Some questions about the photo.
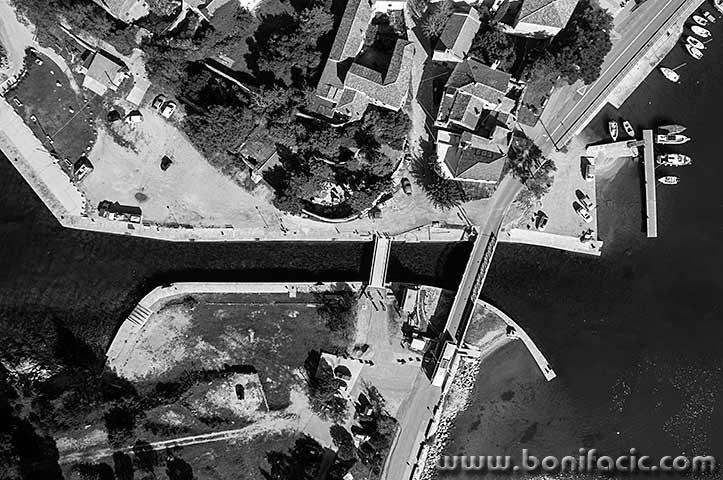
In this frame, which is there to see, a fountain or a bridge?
bridge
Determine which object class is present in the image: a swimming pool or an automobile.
automobile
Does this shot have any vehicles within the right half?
Yes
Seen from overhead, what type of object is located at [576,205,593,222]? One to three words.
car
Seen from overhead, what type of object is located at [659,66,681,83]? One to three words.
boat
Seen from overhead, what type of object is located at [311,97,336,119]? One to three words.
house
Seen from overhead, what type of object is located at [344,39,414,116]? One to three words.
house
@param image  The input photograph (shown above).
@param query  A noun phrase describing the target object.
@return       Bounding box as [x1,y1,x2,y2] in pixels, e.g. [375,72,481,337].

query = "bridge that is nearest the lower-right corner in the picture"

[438,213,503,350]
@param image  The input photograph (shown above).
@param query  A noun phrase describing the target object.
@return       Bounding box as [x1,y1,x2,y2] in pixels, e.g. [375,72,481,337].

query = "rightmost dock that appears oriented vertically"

[640,130,657,237]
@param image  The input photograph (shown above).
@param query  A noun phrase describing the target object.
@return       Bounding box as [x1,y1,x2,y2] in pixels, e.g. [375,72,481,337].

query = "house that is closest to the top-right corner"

[514,0,578,37]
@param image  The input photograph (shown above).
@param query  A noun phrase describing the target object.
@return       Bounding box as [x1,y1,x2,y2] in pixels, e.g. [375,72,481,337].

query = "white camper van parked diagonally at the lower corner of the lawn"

[70,164,93,182]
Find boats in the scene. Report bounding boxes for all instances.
[655,134,691,143]
[609,119,618,141]
[708,0,723,16]
[659,176,681,184]
[691,26,712,39]
[622,120,633,136]
[656,153,692,166]
[685,44,704,62]
[691,16,710,28]
[659,66,681,83]
[658,125,687,133]
[686,35,705,52]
